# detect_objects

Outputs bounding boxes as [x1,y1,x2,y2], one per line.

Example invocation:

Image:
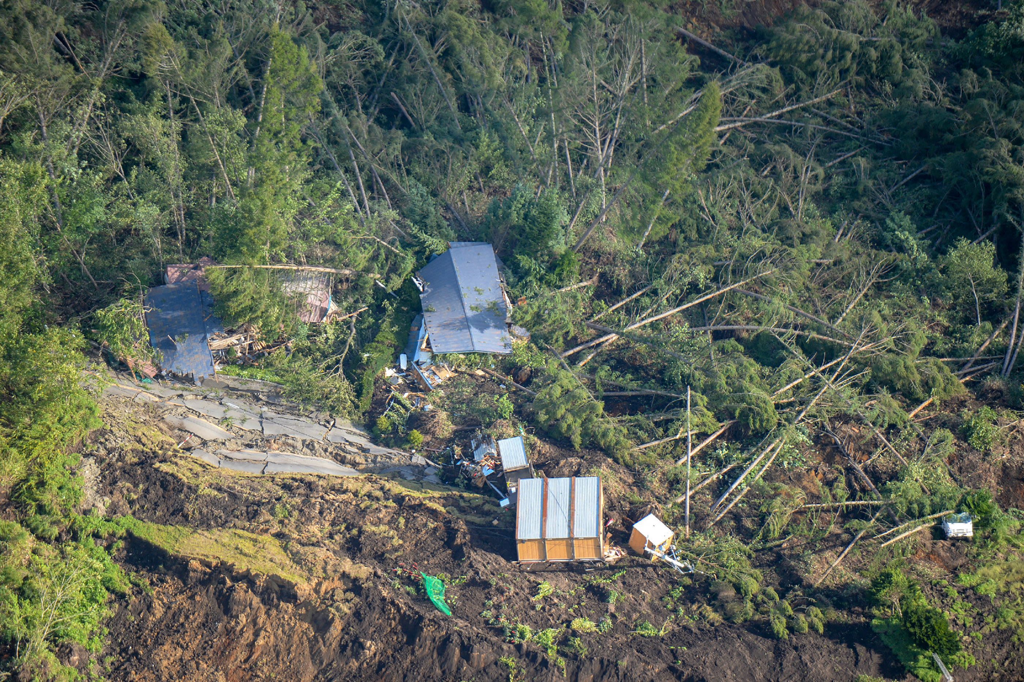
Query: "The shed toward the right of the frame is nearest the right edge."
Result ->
[630,514,673,559]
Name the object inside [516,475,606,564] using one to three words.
shed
